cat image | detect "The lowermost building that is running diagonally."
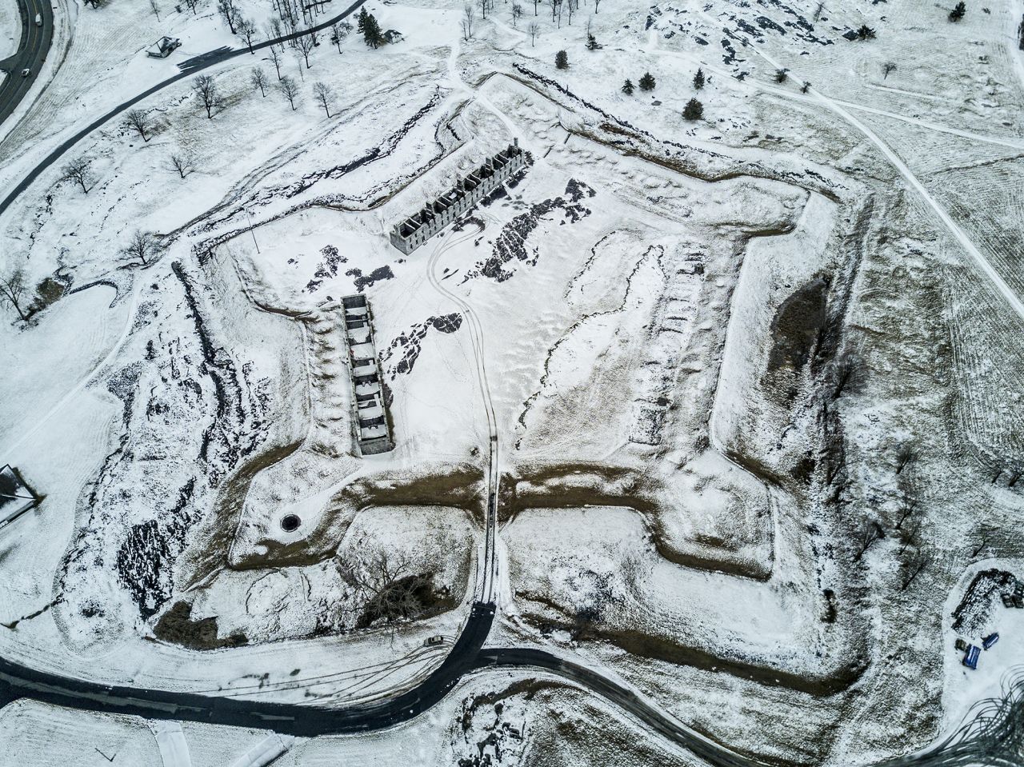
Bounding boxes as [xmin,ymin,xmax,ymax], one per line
[384,134,525,254]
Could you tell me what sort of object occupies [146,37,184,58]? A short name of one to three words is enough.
building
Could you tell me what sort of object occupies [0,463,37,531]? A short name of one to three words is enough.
building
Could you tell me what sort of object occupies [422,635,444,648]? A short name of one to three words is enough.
vehicle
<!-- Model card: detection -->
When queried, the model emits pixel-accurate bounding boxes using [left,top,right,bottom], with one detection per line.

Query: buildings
[0,463,37,531]
[341,293,392,451]
[384,29,402,44]
[146,37,184,58]
[384,134,525,254]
